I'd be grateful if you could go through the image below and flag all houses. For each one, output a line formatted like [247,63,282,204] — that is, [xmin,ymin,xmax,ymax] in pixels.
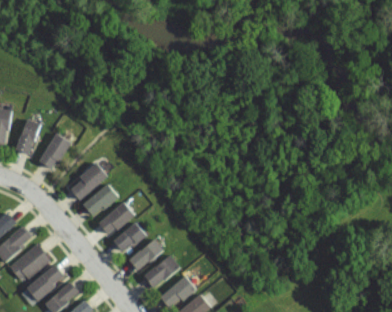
[18,118,44,158]
[114,223,148,253]
[162,277,196,308]
[72,164,108,204]
[0,108,14,148]
[42,134,72,172]
[0,212,18,240]
[83,184,120,218]
[46,282,84,312]
[99,204,136,236]
[16,244,53,280]
[144,256,181,288]
[26,266,68,301]
[72,300,97,312]
[0,226,36,263]
[128,239,166,273]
